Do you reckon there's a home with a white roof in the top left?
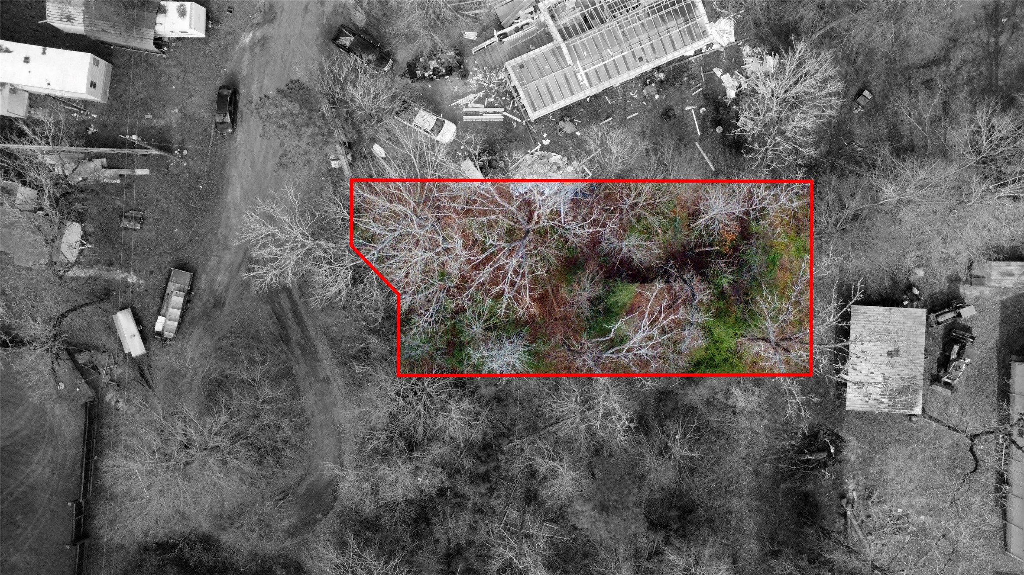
Yes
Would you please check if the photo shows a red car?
No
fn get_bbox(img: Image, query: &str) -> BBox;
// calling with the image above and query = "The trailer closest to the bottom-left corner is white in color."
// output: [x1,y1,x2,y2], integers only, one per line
[118,303,152,356]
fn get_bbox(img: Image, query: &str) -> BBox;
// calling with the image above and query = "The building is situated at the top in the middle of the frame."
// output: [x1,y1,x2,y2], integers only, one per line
[500,0,716,126]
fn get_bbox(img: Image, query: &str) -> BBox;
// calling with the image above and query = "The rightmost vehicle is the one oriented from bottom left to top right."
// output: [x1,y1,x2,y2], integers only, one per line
[923,331,989,402]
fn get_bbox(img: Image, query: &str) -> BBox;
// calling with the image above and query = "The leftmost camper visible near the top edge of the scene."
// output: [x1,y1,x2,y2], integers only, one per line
[154,1,208,37]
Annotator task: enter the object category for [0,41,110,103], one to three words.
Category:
house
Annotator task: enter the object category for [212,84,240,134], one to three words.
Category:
car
